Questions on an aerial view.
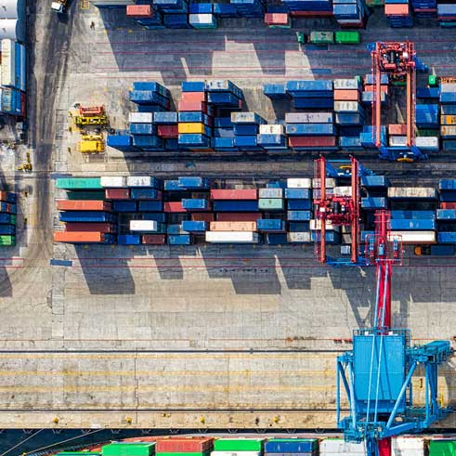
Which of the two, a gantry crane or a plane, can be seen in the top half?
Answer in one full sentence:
You can see a gantry crane in the top half.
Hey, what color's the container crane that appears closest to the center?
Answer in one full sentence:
The container crane that appears closest to the center looks red in the image.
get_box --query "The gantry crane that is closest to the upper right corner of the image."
[372,40,429,166]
